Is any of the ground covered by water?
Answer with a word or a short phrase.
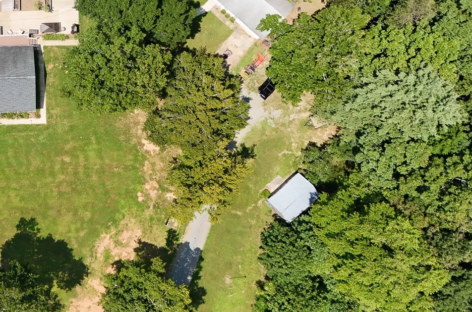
No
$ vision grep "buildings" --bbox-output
[262,171,319,224]
[0,42,36,112]
[205,0,297,40]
